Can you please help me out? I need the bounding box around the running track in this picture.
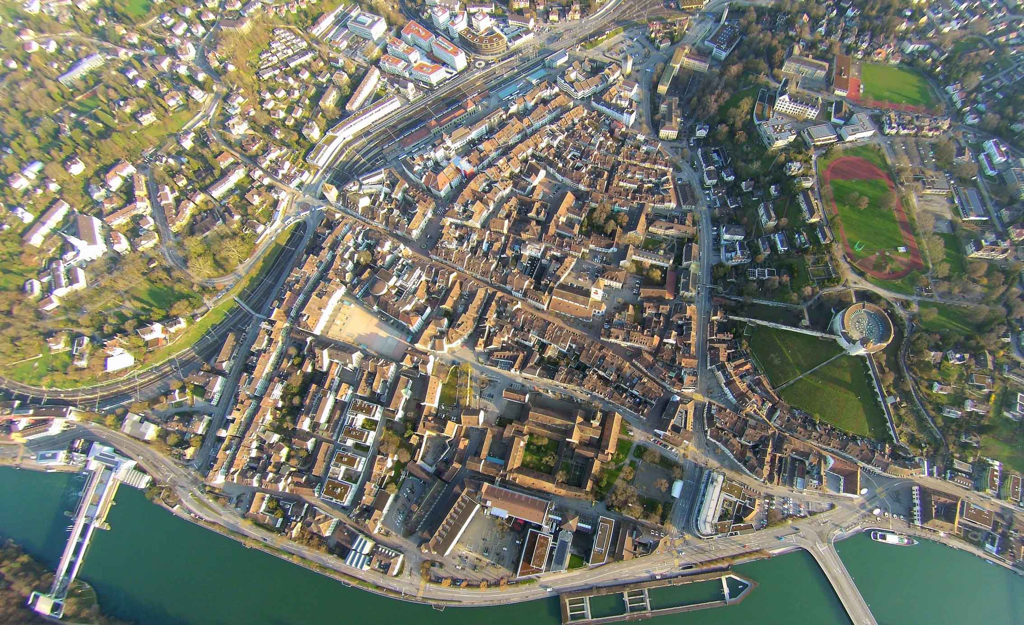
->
[818,152,928,285]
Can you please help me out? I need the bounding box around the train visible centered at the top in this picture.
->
[383,96,470,149]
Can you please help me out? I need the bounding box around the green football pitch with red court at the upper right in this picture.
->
[846,62,938,116]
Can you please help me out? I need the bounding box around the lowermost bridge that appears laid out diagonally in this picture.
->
[801,537,878,625]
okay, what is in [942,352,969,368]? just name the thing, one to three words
house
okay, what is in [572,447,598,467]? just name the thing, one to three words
building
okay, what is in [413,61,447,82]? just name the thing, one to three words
building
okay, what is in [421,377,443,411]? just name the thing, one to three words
house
